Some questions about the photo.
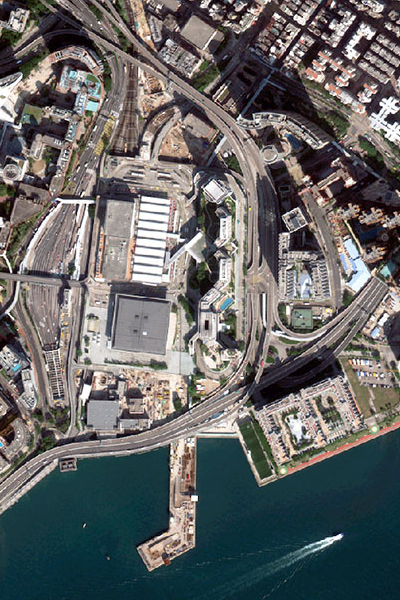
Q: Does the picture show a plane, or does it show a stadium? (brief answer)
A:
stadium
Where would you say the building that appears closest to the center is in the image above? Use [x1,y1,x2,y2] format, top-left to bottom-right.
[199,288,224,312]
